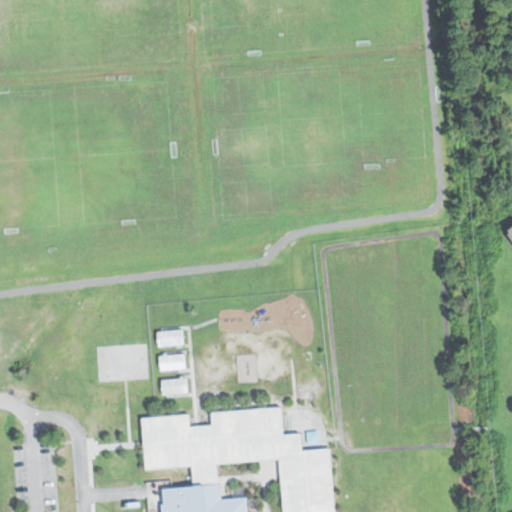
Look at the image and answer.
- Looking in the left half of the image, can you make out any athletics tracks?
No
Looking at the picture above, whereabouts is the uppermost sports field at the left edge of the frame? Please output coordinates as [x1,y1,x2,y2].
[0,0,181,71]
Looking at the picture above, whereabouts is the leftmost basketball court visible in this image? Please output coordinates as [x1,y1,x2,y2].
[98,344,148,382]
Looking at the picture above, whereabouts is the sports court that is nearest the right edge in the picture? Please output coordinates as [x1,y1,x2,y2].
[237,354,258,383]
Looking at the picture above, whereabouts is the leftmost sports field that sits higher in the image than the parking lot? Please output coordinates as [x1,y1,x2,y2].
[0,90,59,230]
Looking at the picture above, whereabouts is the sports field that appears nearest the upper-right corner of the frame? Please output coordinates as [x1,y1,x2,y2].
[359,66,426,160]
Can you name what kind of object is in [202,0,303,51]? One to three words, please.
sports field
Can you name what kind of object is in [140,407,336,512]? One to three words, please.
building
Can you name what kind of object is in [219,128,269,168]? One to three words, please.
sports field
